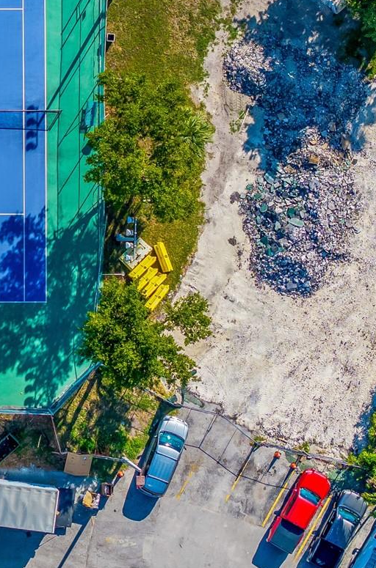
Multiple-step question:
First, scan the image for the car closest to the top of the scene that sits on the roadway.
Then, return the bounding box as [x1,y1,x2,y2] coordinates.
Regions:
[136,412,189,500]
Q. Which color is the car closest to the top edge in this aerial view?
blue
